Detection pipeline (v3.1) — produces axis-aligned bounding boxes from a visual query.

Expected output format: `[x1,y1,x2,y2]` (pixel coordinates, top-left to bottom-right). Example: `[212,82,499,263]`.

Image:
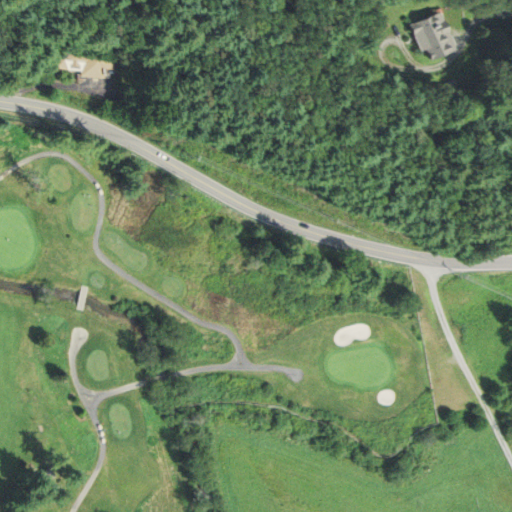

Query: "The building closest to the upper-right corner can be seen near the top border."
[411,7,458,61]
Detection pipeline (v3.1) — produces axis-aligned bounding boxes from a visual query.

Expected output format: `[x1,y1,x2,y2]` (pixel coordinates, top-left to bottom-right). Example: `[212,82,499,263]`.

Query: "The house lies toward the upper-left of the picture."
[58,53,114,80]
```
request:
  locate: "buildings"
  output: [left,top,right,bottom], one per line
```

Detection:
[411,7,458,61]
[58,53,114,80]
